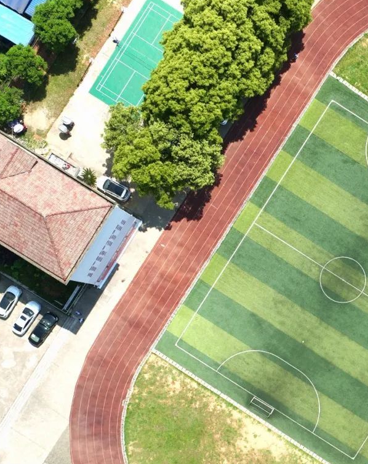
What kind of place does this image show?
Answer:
sports ground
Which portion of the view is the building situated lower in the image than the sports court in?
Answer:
left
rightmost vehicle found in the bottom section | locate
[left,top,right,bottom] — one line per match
[28,310,58,346]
